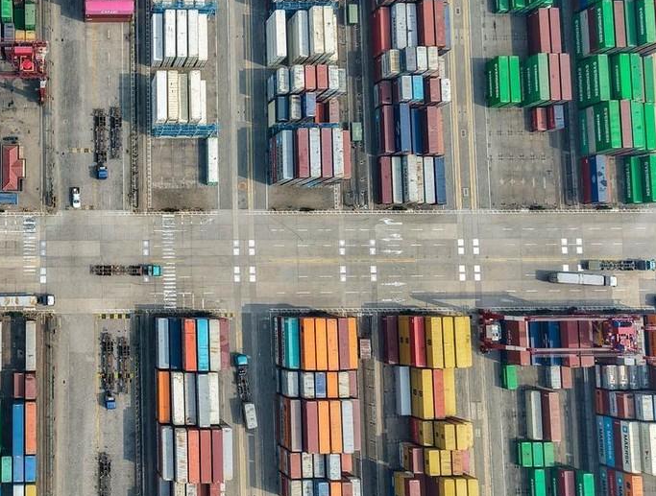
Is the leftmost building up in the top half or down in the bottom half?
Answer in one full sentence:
Seen from above, the leftmost building lies in the top half of the view.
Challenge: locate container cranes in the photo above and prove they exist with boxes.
[0,37,47,108]
[588,322,656,361]
[478,310,646,358]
